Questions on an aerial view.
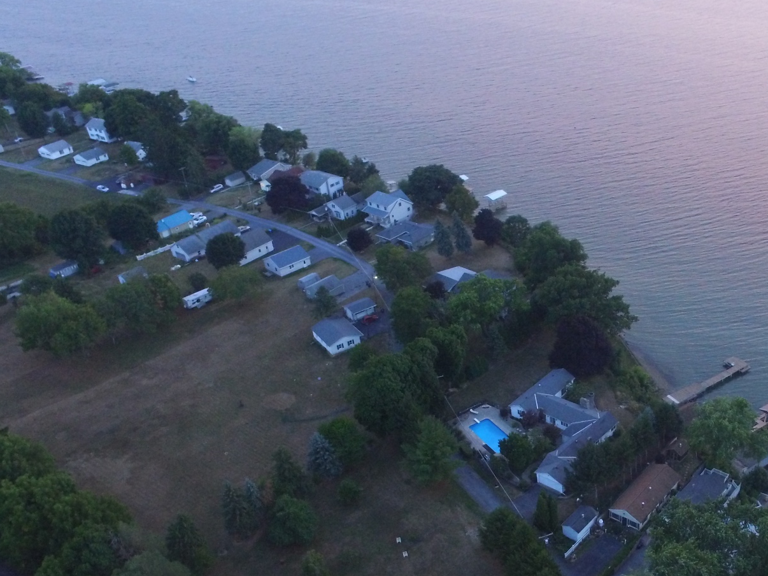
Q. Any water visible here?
Yes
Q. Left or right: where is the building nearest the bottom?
right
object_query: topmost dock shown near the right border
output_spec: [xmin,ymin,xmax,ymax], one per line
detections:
[664,359,750,405]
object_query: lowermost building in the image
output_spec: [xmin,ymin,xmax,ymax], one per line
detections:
[561,508,600,545]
